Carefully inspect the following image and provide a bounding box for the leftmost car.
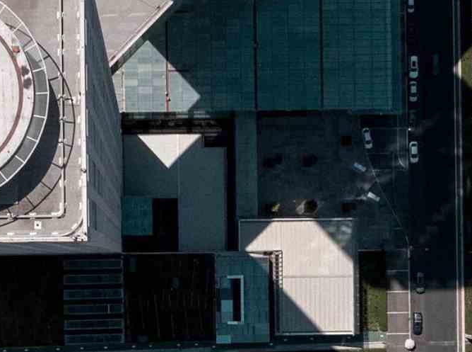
[362,126,374,149]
